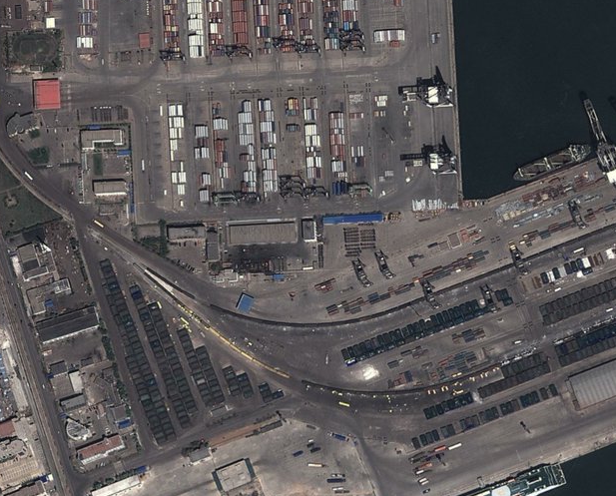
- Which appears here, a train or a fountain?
train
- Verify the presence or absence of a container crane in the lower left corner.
No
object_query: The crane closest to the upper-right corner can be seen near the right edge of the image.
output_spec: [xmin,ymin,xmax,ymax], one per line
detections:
[584,103,616,188]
